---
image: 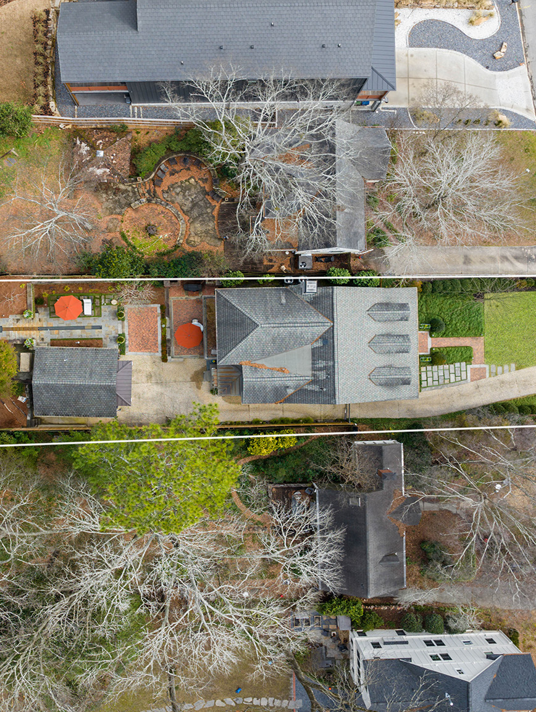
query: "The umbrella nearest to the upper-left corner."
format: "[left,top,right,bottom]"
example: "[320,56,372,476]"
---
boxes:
[53,293,82,321]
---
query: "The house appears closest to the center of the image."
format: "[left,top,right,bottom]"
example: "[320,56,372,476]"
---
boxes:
[215,279,420,405]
